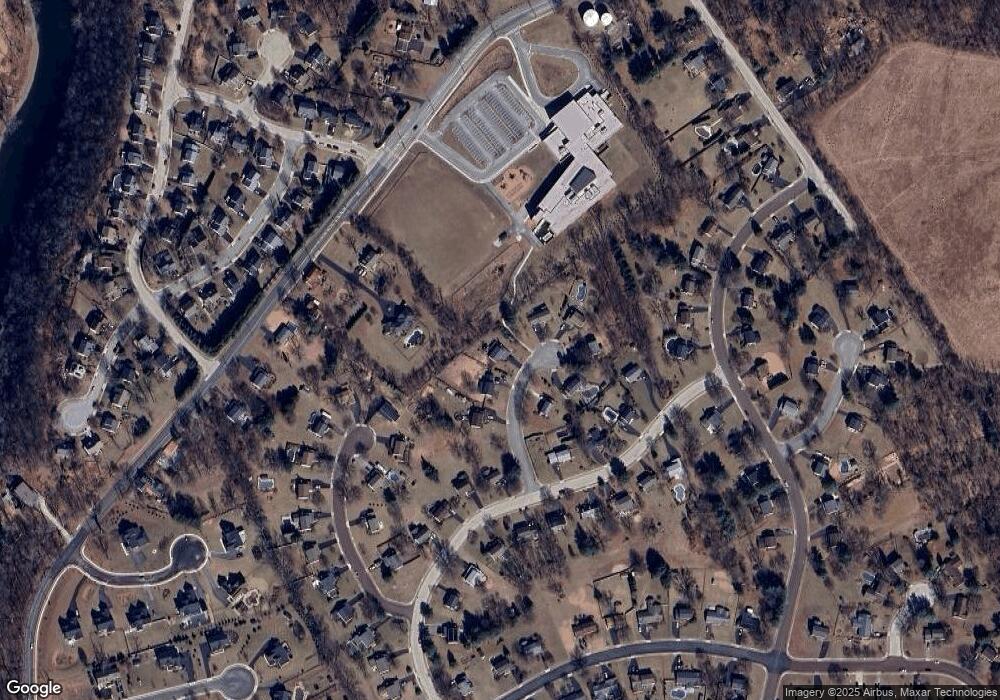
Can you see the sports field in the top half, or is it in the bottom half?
top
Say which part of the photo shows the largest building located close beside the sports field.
top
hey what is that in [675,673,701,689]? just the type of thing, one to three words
house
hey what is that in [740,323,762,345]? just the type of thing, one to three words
house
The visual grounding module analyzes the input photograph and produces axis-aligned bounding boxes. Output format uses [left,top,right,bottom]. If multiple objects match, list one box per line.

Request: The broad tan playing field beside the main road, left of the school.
[372,146,512,289]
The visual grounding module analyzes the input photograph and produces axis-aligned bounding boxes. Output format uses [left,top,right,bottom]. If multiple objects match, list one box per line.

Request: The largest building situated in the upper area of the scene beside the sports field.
[533,92,623,245]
